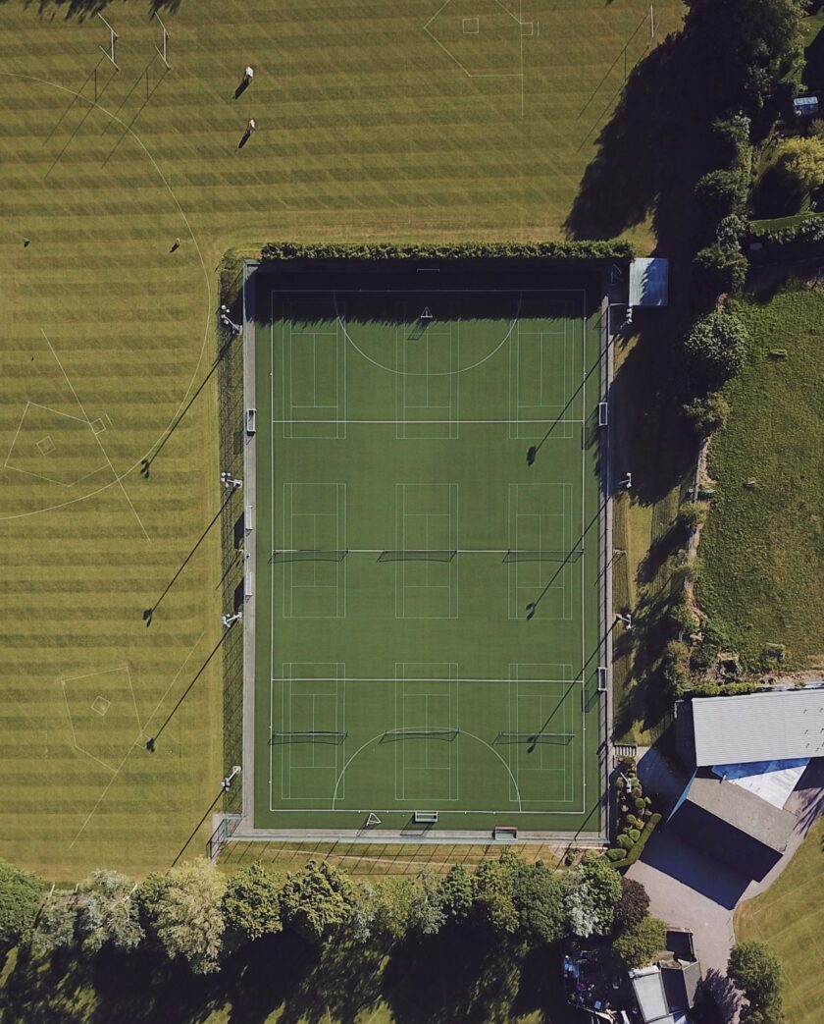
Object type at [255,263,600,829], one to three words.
sports field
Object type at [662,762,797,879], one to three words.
building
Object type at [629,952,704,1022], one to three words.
house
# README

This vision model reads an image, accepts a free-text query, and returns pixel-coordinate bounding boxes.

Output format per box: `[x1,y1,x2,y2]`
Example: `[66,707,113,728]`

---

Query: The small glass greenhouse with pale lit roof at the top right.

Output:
[792,92,822,114]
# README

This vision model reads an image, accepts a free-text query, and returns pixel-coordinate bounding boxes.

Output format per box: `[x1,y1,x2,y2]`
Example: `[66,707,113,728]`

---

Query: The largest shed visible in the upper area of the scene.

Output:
[627,259,668,308]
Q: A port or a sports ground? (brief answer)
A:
sports ground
